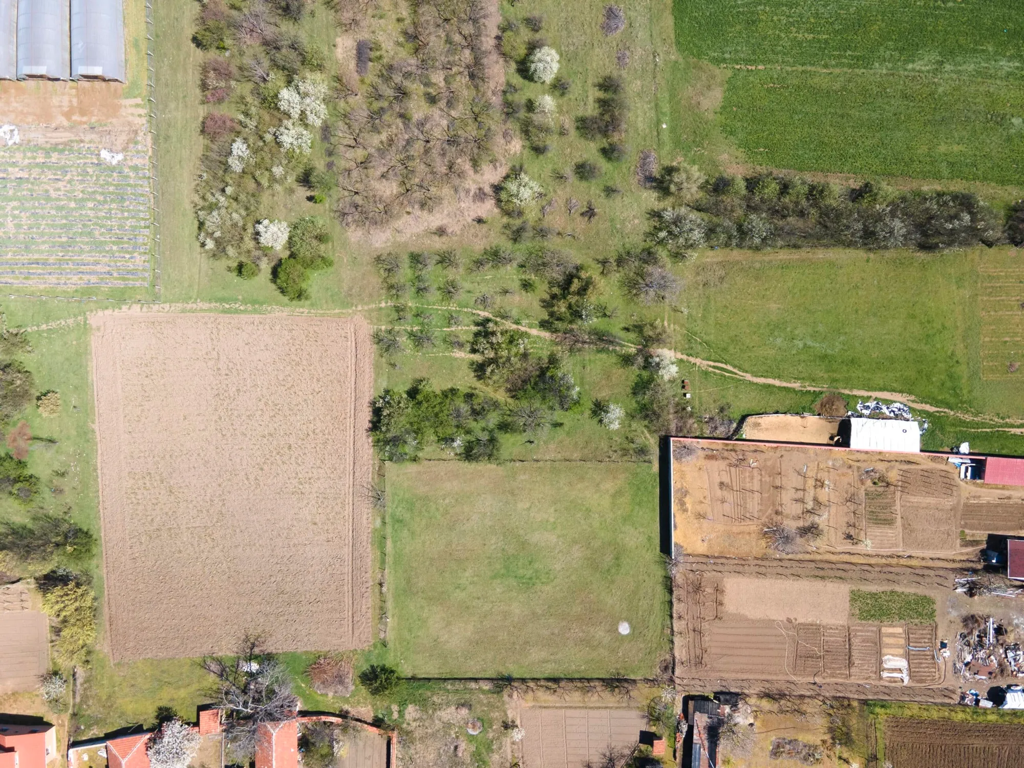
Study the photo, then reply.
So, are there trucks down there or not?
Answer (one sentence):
No, there isn't any truck down there.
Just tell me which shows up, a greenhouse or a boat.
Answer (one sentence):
Visible in the photo is a greenhouse.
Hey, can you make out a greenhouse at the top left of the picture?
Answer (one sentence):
Yes, a greenhouse can be seen at the top left of the picture.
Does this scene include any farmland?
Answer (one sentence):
Yes, farmland shows up in the scene.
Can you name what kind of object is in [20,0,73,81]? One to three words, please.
greenhouse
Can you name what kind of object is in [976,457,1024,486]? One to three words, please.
building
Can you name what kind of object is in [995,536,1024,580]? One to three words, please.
house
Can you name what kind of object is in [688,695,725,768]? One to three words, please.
barn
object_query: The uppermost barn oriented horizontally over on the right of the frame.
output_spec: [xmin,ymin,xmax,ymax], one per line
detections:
[844,418,920,452]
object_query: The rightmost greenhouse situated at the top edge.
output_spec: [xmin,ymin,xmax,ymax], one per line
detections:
[73,0,126,82]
